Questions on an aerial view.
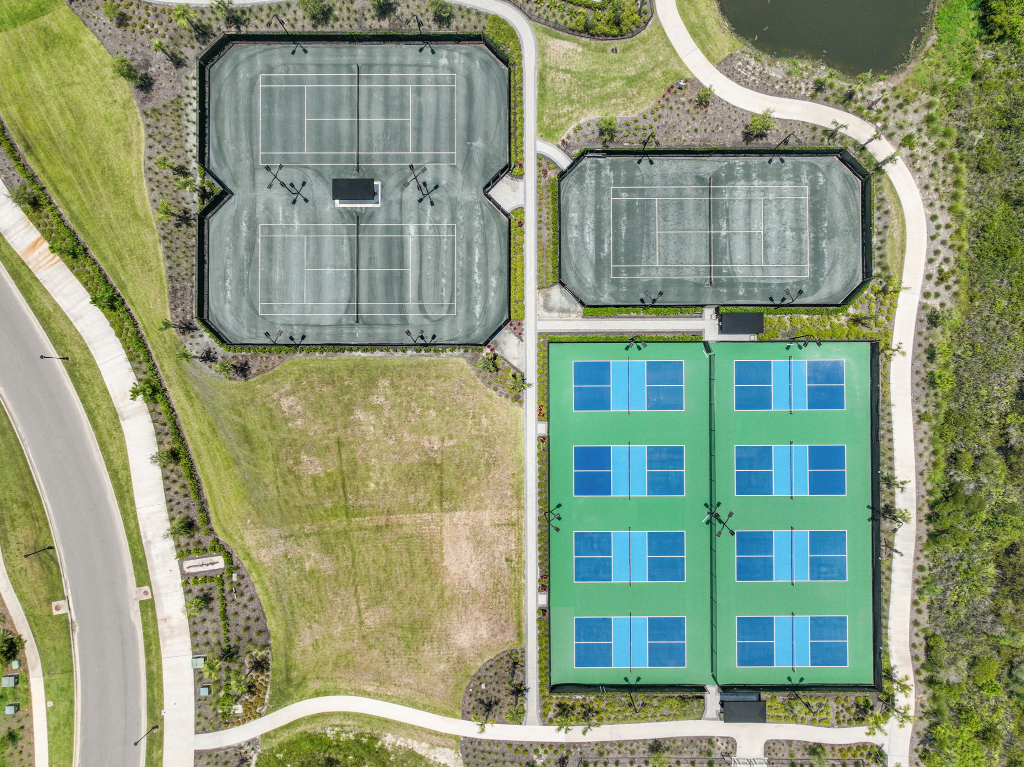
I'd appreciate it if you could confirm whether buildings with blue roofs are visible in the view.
No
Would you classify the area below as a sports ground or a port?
sports ground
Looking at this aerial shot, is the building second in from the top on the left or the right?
right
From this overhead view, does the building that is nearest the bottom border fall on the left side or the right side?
right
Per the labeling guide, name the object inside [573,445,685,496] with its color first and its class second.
blue sports court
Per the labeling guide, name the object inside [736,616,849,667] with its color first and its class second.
blue sports court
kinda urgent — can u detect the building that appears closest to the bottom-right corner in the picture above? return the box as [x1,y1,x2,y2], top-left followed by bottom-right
[719,693,767,724]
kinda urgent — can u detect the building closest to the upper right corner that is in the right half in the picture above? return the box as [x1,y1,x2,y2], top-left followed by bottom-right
[717,312,764,335]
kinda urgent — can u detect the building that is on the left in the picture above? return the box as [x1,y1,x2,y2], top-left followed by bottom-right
[332,178,380,207]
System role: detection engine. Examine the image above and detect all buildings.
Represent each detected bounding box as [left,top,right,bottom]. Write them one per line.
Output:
[332,178,380,207]
[719,693,767,724]
[717,312,764,335]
